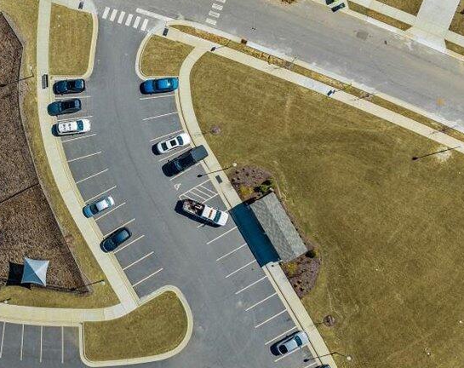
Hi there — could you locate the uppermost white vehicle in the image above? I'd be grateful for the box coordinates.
[59,118,92,135]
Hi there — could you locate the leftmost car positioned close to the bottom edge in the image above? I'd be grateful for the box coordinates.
[278,333,311,355]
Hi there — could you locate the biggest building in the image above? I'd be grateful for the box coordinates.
[246,193,308,263]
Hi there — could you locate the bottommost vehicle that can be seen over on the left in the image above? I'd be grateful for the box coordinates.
[100,228,134,252]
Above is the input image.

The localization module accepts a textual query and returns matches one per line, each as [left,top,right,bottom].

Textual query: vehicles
[278,333,311,355]
[142,78,179,94]
[82,196,116,218]
[100,228,134,252]
[47,99,82,116]
[158,133,192,154]
[59,118,92,135]
[165,144,213,175]
[53,79,85,95]
[181,198,230,223]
